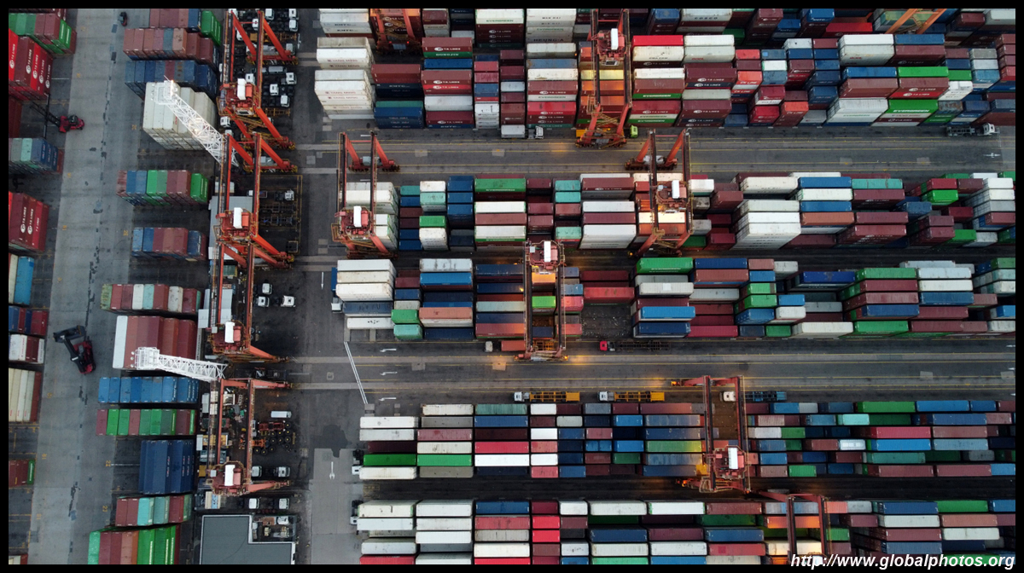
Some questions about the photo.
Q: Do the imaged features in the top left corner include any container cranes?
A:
Yes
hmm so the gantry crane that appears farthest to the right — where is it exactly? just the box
[884,0,955,35]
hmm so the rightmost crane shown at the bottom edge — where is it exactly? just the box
[739,487,833,573]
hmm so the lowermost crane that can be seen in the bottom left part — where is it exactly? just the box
[201,378,299,500]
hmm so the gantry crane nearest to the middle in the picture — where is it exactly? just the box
[513,238,570,362]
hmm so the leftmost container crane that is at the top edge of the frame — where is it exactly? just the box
[214,9,303,148]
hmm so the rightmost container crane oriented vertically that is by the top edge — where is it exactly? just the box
[574,7,633,146]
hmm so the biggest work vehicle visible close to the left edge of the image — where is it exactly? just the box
[47,323,96,377]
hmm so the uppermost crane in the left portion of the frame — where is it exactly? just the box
[353,0,420,54]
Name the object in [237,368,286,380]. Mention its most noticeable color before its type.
black vehicle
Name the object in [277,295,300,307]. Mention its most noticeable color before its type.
white vehicle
